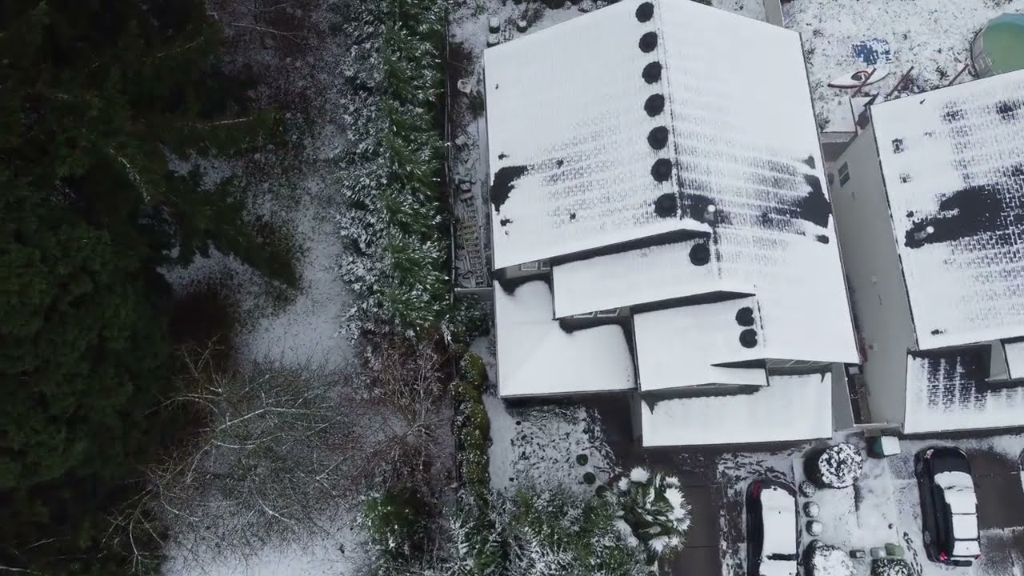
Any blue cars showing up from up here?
No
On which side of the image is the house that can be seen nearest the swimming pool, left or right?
right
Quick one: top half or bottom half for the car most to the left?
bottom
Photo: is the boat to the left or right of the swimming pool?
on the left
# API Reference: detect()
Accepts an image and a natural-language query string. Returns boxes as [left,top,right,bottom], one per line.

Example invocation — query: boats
[830,65,895,85]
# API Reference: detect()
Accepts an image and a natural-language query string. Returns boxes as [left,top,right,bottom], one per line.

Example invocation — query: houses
[482,0,861,450]
[827,65,1024,436]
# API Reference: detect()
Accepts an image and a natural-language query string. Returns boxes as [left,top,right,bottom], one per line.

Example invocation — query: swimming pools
[970,3,1024,76]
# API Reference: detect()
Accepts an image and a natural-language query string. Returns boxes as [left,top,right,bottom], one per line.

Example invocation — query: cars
[743,479,805,576]
[912,446,985,568]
